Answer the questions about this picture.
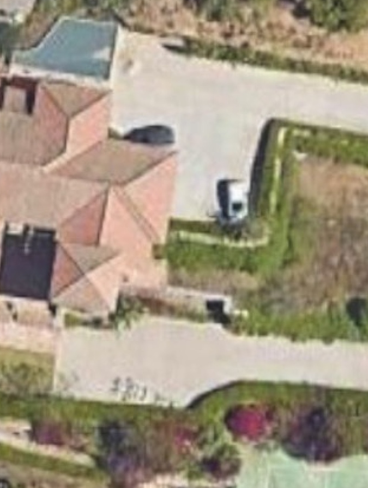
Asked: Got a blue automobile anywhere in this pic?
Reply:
No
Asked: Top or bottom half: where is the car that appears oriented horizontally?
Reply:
top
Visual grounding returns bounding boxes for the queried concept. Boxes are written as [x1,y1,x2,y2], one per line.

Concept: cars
[229,179,248,224]
[129,125,177,146]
